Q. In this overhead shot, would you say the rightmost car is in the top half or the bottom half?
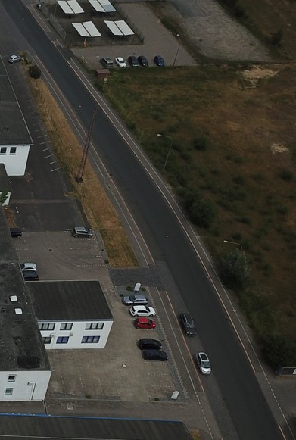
bottom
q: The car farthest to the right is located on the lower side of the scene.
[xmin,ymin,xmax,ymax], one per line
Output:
[194,351,214,374]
